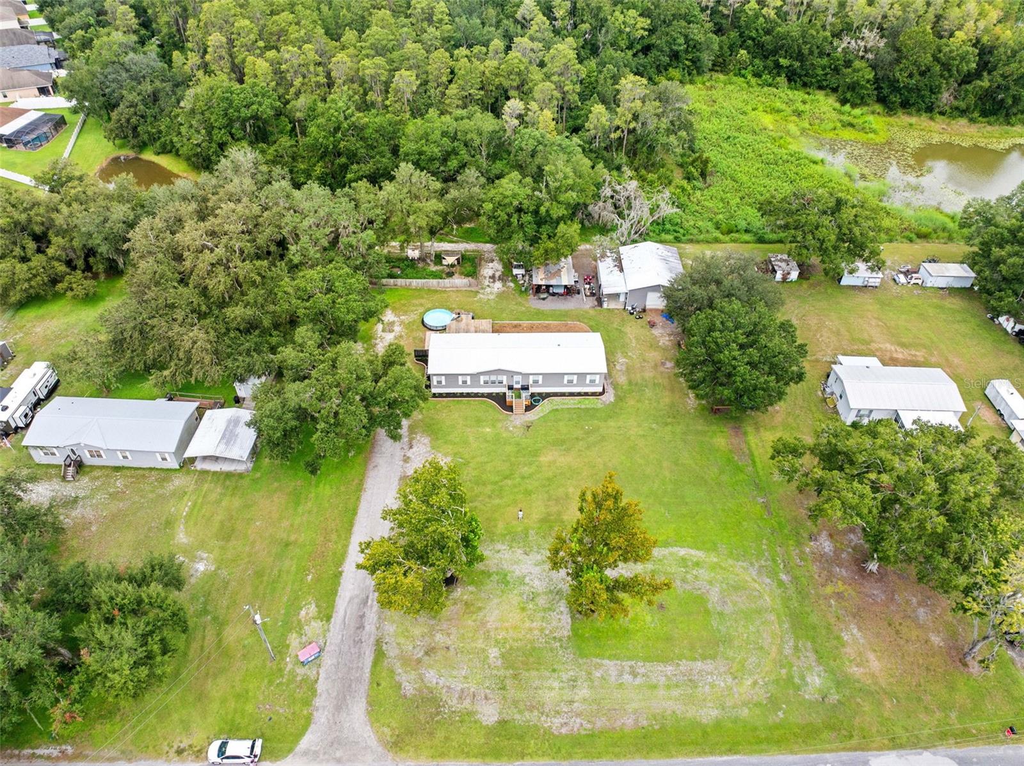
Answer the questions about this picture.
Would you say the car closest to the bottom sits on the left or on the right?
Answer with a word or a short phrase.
left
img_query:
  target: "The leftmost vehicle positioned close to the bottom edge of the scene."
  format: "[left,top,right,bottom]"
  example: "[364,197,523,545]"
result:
[206,736,266,766]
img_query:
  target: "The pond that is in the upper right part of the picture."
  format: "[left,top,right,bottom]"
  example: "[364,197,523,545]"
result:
[806,132,1024,212]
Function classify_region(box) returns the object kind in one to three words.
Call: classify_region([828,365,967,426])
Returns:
house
